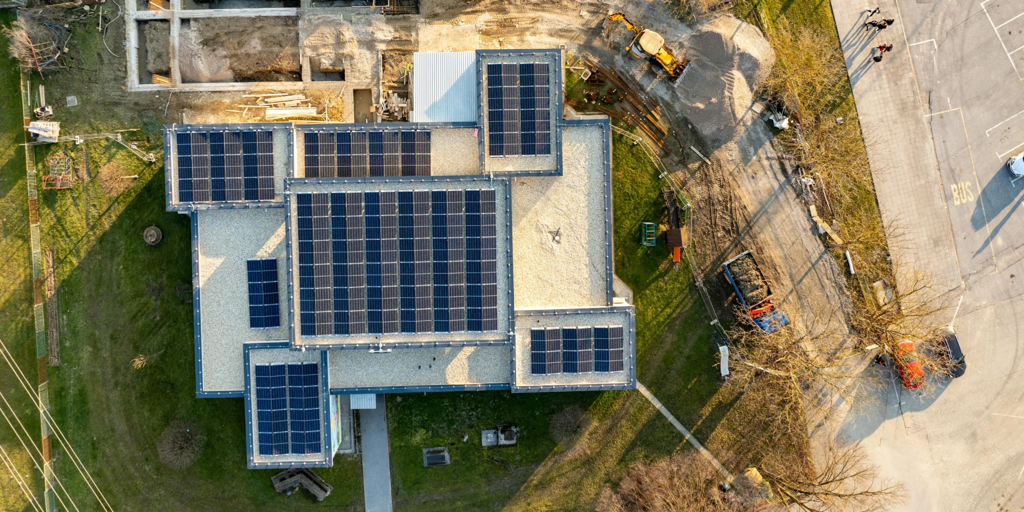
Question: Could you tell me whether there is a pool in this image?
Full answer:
No, I can't see a single pool in this photo.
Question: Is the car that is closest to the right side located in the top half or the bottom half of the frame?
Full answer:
You can find the car that is closest to the right side in the top half.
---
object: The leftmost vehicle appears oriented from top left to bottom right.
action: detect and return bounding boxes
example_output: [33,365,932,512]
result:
[598,9,691,92]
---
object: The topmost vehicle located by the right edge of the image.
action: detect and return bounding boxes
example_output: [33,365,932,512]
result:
[1002,147,1024,177]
